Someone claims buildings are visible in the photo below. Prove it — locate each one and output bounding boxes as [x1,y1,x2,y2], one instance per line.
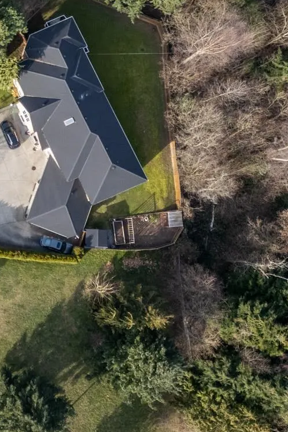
[14,14,149,239]
[161,209,183,227]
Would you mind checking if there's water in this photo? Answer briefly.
No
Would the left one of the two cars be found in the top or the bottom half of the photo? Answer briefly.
top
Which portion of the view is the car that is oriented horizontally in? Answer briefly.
left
